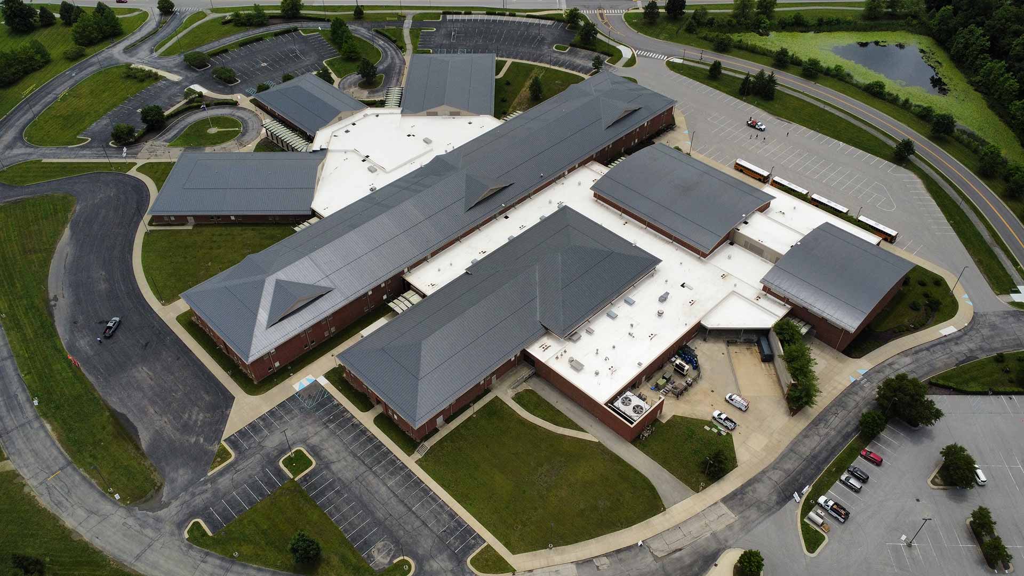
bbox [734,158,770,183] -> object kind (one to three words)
bus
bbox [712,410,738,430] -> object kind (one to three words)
vehicle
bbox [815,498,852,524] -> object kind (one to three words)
truck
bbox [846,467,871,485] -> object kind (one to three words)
car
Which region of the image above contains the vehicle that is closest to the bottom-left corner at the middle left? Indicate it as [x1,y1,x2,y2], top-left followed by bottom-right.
[102,318,120,336]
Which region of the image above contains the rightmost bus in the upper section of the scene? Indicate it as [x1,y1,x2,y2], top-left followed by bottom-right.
[855,216,899,242]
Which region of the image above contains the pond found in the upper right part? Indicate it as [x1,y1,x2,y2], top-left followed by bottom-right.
[834,42,942,95]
